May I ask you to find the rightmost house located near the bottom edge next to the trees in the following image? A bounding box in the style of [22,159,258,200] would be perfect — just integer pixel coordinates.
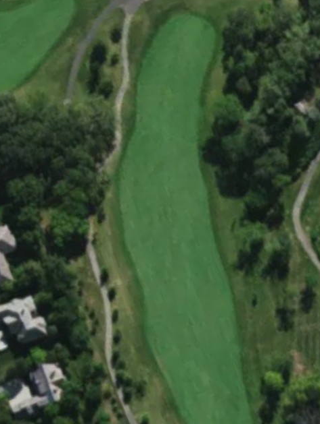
[29,360,69,407]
